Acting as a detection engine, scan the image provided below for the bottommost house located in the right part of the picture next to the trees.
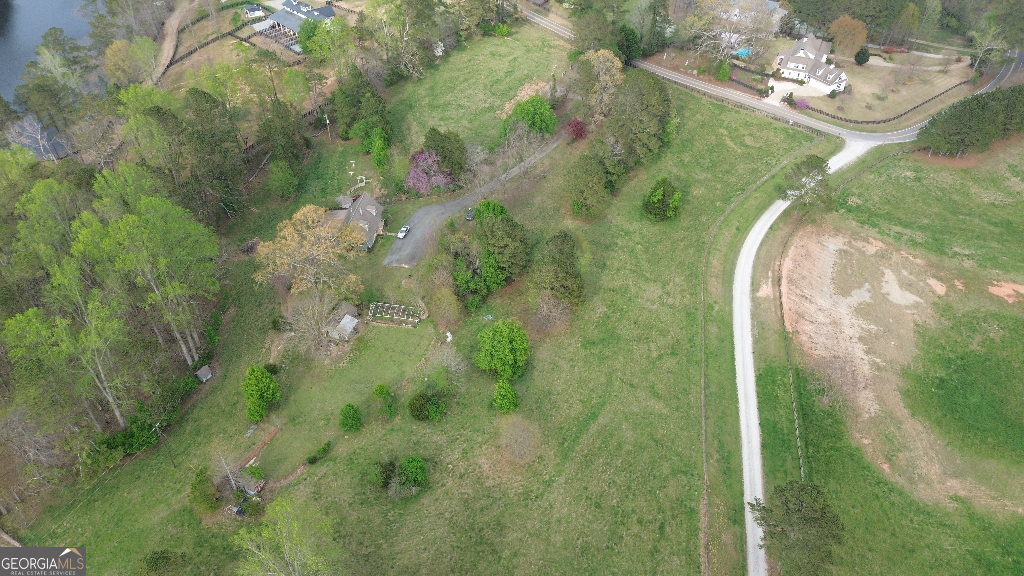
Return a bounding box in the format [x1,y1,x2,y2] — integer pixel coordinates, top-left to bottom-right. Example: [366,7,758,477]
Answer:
[767,32,853,94]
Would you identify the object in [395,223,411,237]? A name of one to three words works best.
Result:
car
